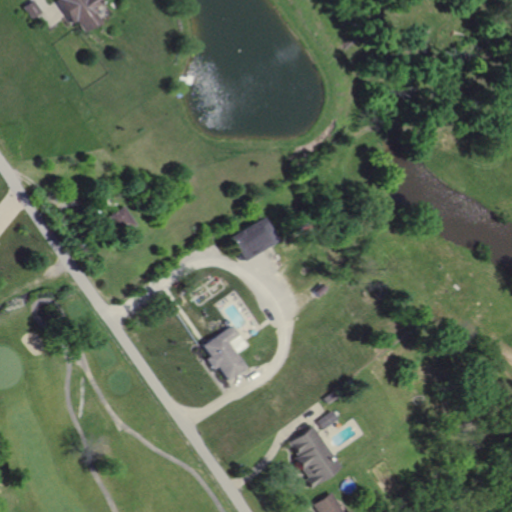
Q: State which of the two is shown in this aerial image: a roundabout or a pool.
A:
pool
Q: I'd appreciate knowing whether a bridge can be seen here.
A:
No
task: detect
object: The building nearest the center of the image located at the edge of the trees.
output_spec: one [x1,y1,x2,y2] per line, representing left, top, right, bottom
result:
[232,217,280,260]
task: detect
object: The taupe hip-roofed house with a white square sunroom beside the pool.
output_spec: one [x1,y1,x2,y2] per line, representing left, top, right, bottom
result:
[202,328,250,383]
